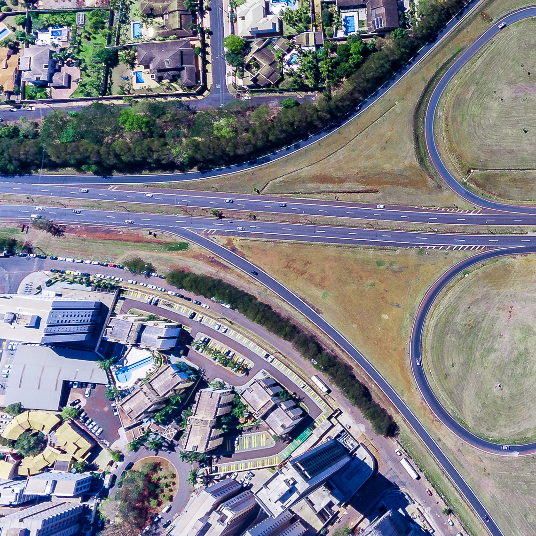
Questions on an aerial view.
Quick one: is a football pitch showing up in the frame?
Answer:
No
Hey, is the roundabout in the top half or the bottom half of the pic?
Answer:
bottom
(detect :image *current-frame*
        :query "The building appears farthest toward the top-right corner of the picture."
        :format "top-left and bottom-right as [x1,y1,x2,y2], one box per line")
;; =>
[336,0,398,31]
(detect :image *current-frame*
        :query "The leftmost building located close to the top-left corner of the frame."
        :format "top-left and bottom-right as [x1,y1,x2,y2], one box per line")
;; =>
[0,47,21,93]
